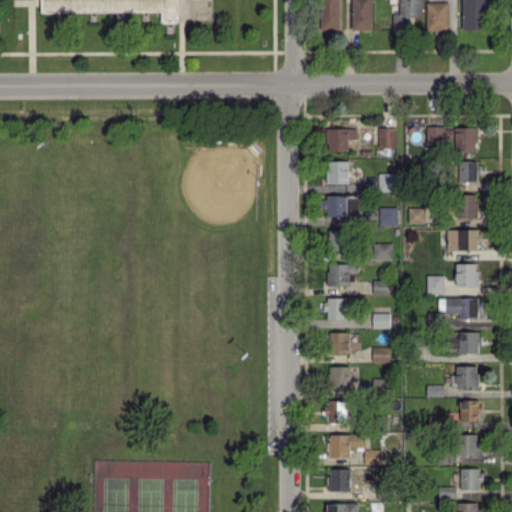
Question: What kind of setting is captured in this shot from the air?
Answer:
sports ground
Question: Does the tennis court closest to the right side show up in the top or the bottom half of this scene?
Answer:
bottom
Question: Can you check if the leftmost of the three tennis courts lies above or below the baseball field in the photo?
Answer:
below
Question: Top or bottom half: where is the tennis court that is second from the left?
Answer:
bottom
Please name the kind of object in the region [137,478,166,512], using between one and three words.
tennis court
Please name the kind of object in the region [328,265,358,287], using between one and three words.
house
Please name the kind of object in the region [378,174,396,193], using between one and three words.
building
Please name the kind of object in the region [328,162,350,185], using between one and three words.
house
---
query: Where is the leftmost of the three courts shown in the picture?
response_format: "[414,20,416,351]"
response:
[102,478,130,512]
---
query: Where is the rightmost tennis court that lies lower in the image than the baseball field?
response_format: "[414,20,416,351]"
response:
[172,478,200,512]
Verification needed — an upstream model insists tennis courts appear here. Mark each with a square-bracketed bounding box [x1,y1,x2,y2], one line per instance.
[102,478,130,512]
[137,478,166,512]
[172,478,200,512]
